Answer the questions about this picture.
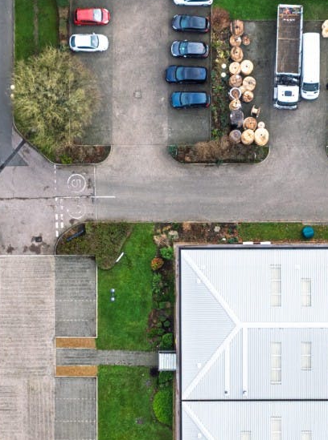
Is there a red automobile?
Yes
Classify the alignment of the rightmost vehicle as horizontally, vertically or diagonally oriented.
vertically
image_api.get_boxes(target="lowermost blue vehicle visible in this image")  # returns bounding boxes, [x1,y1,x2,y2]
[172,90,209,109]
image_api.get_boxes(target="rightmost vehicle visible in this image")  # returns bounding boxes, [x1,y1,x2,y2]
[300,31,321,99]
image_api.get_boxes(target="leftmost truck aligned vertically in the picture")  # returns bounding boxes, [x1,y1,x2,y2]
[275,4,301,110]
